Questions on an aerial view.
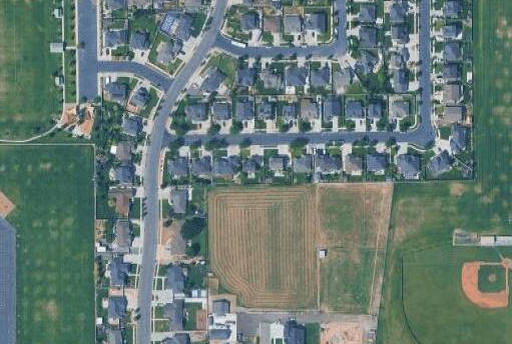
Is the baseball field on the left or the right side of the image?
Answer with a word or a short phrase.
right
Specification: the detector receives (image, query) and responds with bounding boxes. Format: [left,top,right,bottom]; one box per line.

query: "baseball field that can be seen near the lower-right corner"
[402,246,512,344]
